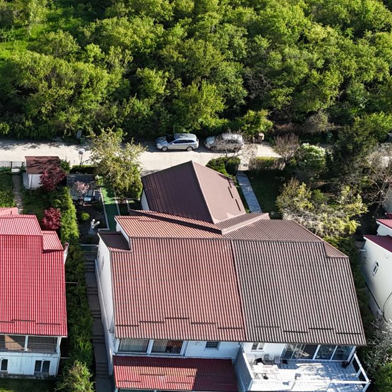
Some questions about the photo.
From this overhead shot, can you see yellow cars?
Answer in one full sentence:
No, no yellow car can be seen from above.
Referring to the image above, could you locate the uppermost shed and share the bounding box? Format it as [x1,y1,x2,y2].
[27,149,60,188]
